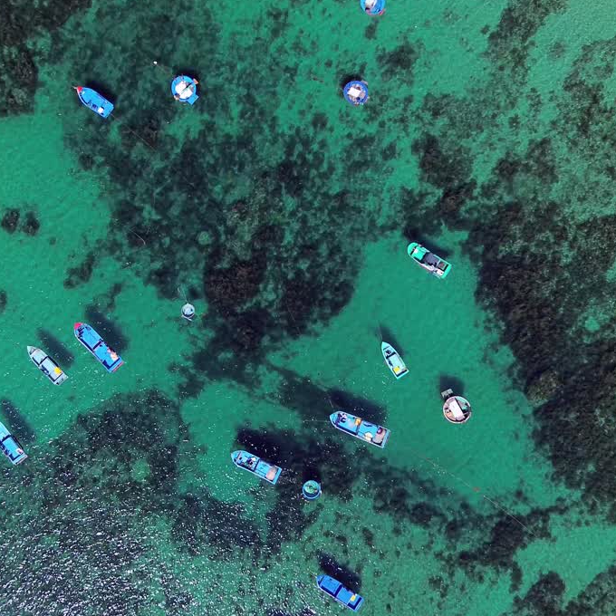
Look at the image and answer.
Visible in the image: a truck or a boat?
boat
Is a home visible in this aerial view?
No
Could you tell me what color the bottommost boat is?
blue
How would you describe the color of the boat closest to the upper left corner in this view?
blue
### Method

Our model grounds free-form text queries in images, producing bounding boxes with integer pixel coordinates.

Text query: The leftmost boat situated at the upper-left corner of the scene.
[72,84,116,119]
